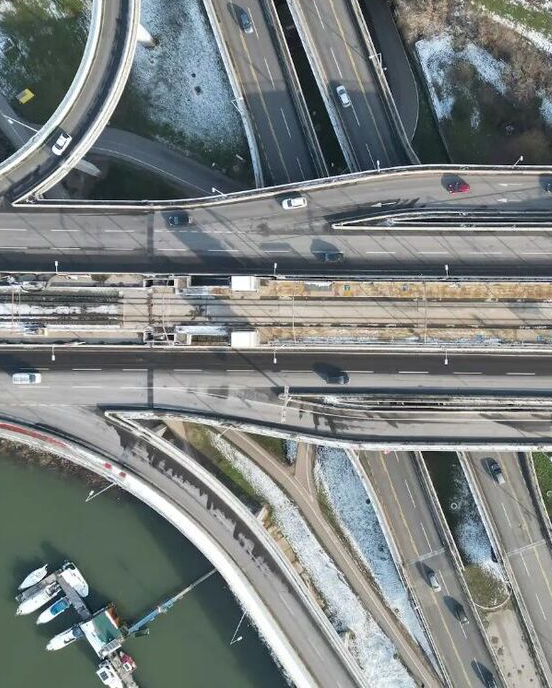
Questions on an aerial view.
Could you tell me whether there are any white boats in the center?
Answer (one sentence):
No, looking in the center, there is no white boat.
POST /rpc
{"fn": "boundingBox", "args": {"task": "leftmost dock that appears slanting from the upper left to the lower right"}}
[54,575,91,621]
